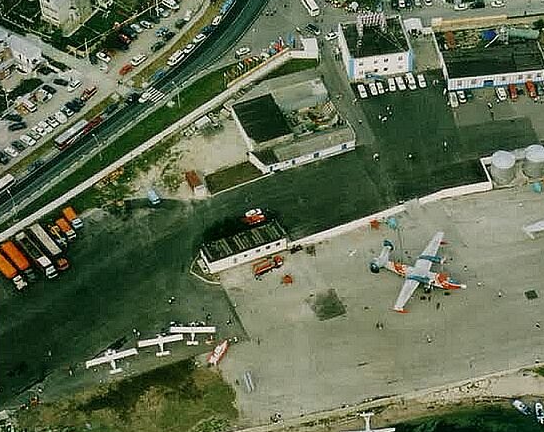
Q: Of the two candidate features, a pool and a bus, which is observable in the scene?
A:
bus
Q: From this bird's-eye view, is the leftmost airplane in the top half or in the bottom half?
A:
bottom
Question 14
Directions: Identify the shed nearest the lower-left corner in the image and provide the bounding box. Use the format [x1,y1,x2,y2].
[199,218,288,272]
